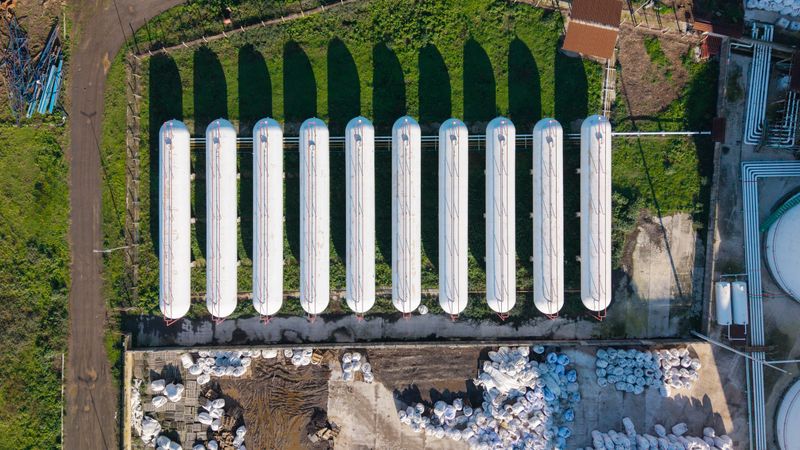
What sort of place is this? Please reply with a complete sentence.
What you see here is an industrial area.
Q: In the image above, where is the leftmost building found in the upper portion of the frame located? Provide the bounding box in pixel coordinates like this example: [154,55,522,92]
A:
[561,0,623,60]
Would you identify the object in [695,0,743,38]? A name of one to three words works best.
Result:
barn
